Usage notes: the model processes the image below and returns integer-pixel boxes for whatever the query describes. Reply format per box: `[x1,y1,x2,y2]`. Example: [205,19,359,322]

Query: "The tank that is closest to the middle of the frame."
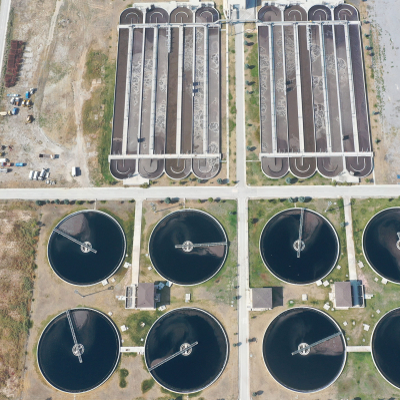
[148,209,228,286]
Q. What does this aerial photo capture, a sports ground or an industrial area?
industrial area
